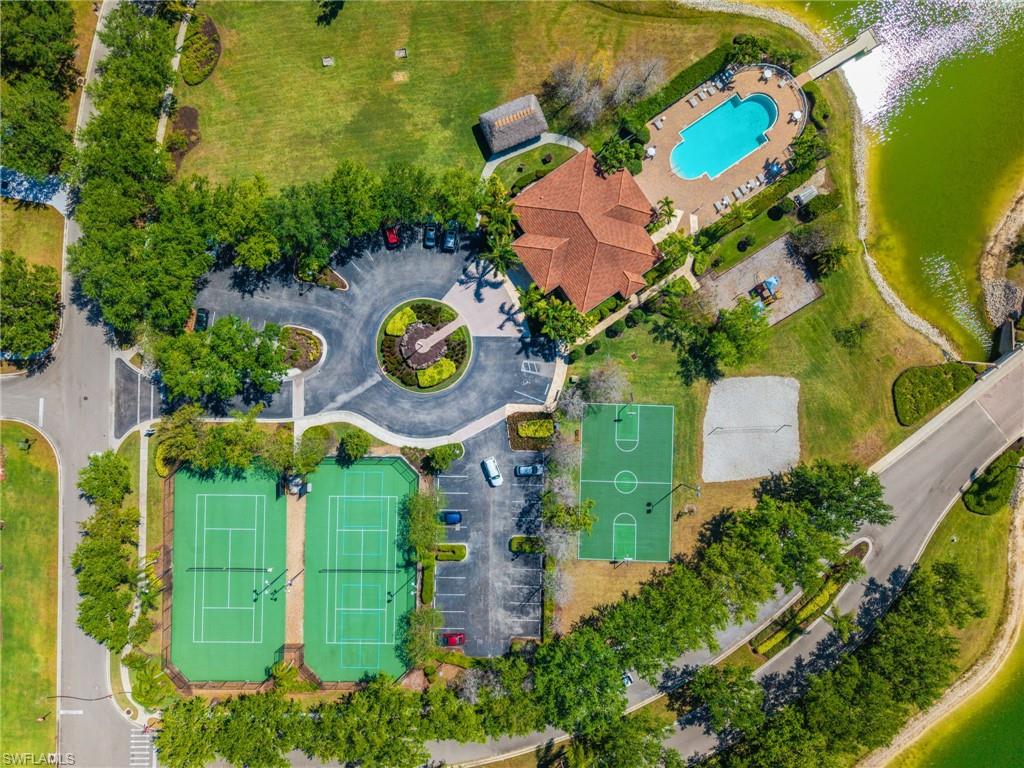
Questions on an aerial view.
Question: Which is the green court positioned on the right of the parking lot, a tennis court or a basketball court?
basketball court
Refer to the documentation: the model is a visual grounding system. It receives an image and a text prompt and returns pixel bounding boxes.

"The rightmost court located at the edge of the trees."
[702,376,800,483]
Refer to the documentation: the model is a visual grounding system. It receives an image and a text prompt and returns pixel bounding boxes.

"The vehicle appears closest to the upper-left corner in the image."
[194,306,210,334]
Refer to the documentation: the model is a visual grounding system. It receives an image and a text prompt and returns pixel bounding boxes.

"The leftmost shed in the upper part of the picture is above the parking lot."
[478,95,549,154]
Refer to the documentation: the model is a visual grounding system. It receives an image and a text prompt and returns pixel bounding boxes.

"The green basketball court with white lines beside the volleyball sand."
[578,404,675,562]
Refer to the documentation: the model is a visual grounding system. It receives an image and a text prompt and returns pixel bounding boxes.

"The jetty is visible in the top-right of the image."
[794,27,881,88]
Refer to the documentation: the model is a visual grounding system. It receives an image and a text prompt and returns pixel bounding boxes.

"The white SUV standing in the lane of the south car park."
[483,456,502,486]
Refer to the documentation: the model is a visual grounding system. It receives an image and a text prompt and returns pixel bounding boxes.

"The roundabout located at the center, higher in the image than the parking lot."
[377,298,472,393]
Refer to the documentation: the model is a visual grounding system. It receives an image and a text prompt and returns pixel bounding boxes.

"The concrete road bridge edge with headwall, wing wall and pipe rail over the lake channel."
[959,323,1024,391]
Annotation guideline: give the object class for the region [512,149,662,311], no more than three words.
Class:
building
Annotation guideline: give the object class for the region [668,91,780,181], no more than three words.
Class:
swimming pool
